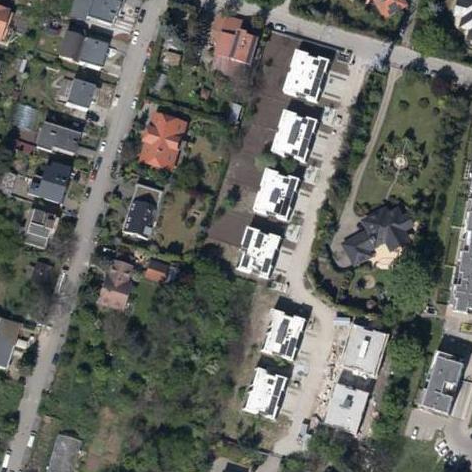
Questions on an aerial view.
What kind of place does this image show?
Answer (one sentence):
This looks like a residential area.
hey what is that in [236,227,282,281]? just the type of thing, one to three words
house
